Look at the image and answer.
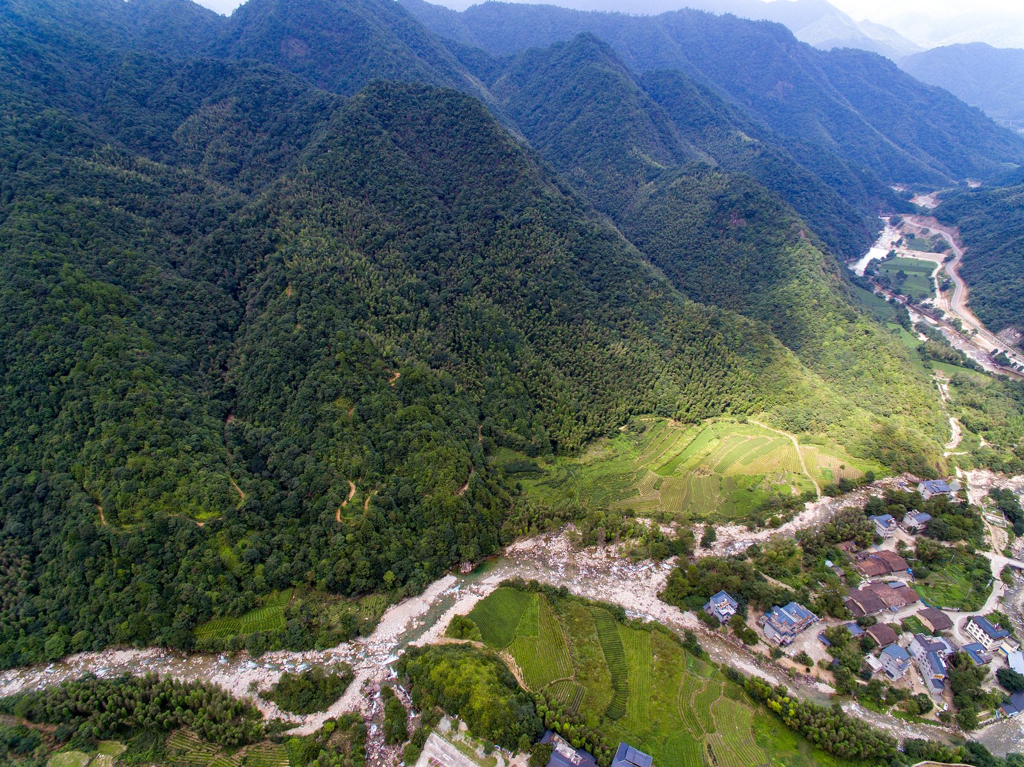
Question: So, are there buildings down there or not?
Yes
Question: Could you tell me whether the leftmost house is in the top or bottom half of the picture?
bottom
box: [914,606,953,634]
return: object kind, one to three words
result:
house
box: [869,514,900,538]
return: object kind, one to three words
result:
house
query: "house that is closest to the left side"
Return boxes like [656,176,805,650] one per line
[532,726,596,767]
